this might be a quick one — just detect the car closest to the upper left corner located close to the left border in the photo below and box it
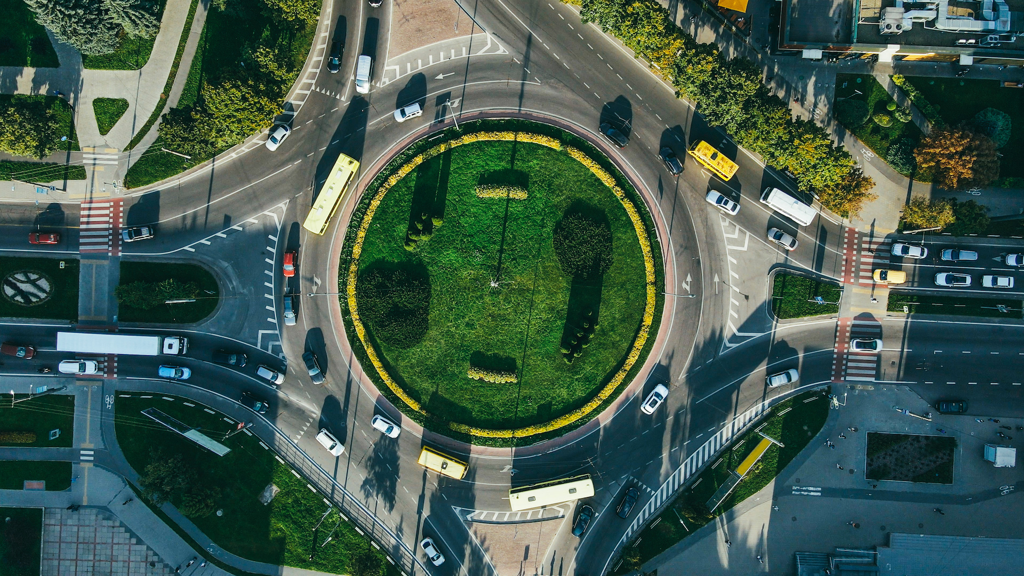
[29,230,61,246]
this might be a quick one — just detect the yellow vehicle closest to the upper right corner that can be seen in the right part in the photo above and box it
[872,268,909,284]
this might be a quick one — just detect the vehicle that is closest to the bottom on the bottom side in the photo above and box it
[419,535,445,566]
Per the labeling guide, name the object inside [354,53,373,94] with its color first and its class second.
white vehicle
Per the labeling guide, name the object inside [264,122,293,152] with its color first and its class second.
white car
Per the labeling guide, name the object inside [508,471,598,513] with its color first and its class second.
white bus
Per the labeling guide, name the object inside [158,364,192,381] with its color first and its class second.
blue car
